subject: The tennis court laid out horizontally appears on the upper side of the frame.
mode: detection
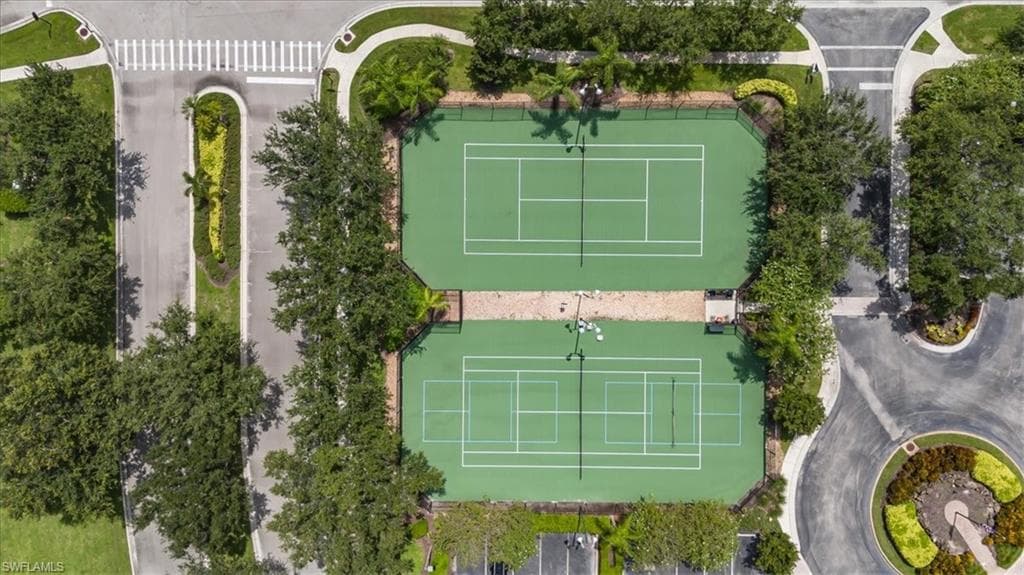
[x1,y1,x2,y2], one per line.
[401,108,767,290]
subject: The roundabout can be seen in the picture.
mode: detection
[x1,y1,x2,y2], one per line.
[870,431,1024,575]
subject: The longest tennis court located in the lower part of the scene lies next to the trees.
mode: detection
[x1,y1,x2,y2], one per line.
[402,321,766,503]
